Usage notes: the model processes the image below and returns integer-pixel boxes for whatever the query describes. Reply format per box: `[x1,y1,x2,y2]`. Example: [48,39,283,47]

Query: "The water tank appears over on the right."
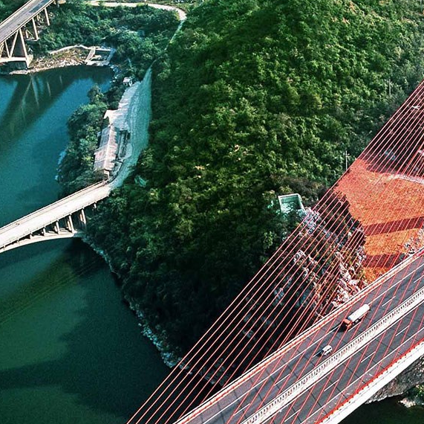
[278,192,308,227]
